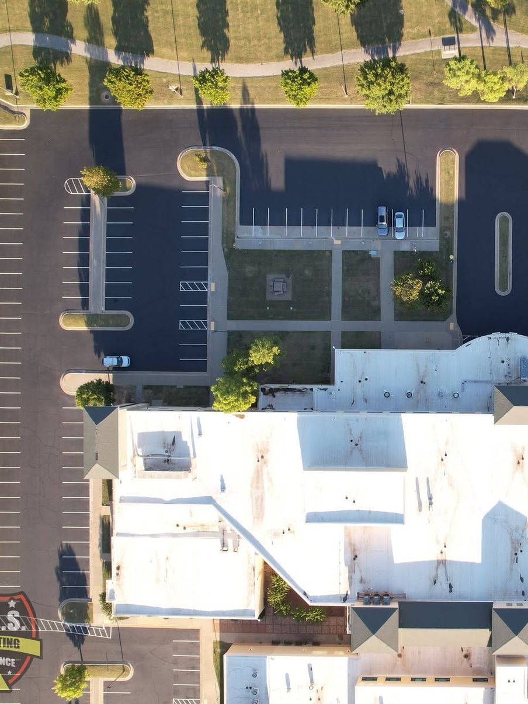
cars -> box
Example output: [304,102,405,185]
[394,211,406,239]
[102,355,131,368]
[377,208,388,235]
